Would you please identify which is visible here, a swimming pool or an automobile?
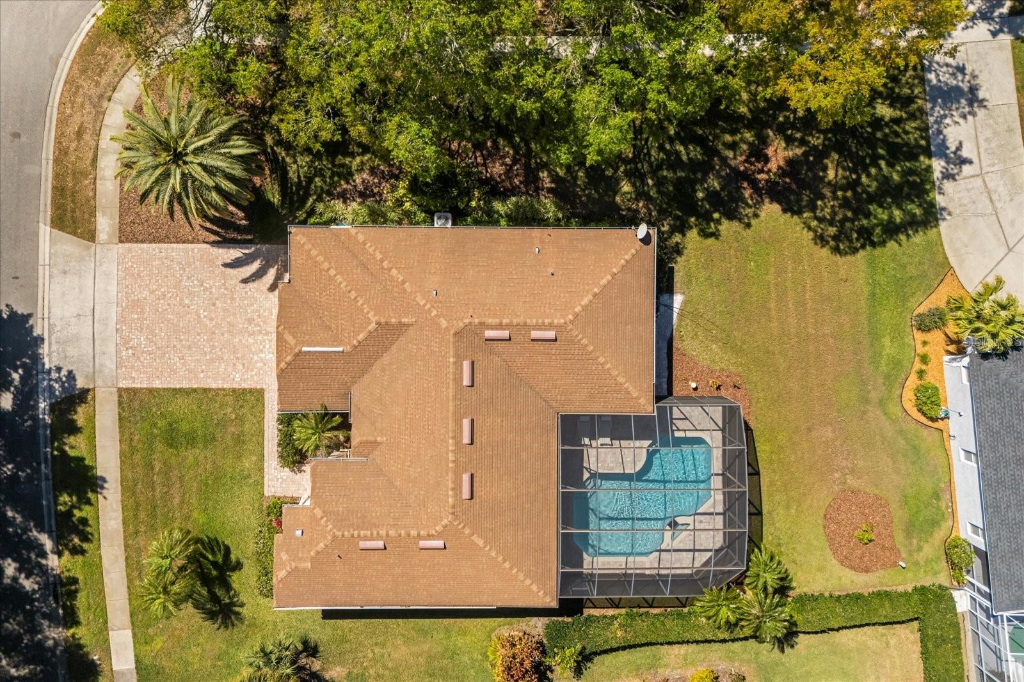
swimming pool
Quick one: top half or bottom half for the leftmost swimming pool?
bottom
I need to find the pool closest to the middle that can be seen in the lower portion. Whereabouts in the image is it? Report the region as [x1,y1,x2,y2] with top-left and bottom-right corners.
[569,432,717,562]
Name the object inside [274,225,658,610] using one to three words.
house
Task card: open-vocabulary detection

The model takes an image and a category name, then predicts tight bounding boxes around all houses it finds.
[941,325,1024,619]
[274,225,658,610]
